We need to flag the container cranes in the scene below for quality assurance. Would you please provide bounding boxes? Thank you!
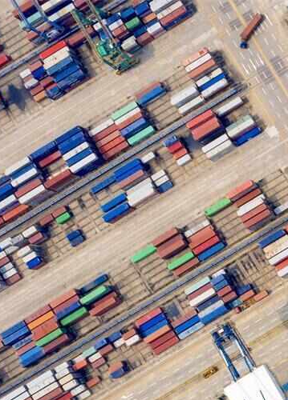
[207,327,287,400]
[5,0,66,46]
[80,0,146,62]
